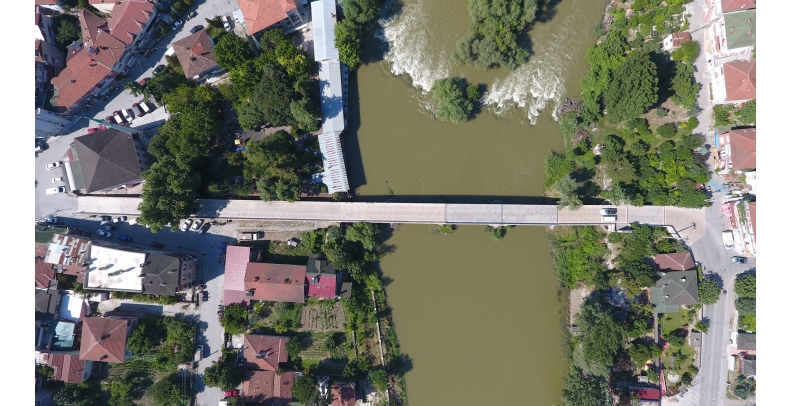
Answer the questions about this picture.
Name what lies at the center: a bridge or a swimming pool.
bridge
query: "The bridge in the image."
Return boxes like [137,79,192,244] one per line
[77,196,667,228]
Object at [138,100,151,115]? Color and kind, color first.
white vehicle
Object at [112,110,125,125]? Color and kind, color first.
white vehicle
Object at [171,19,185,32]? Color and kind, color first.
blue vehicle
